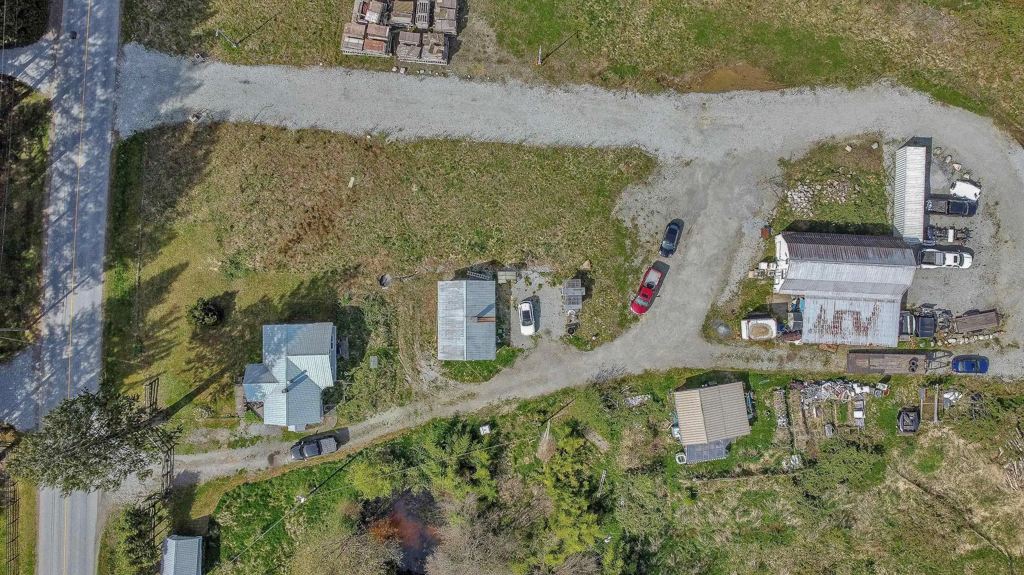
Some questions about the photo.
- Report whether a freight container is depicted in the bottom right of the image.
No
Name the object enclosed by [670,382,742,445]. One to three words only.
shed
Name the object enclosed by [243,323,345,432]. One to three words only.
house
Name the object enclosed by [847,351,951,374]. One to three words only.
trailer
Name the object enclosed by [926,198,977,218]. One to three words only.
vehicle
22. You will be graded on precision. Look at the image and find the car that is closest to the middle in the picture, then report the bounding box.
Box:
[518,300,537,336]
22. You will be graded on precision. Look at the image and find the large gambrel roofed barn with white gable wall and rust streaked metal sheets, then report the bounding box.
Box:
[771,231,917,301]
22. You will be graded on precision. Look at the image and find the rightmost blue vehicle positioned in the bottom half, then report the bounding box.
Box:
[950,357,988,376]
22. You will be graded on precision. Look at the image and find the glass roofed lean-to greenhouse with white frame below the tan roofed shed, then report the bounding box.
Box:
[682,440,726,466]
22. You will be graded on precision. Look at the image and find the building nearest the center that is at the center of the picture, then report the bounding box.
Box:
[438,280,496,362]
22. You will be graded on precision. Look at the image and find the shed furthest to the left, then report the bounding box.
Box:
[167,528,212,575]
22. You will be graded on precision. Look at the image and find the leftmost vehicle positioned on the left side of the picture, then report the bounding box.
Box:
[291,434,339,460]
